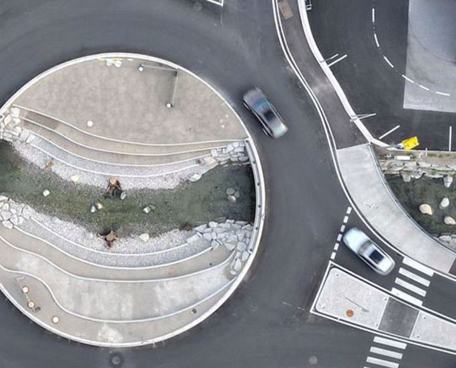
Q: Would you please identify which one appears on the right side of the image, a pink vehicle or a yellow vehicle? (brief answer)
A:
yellow vehicle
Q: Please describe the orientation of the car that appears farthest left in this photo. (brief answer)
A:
on a diagonal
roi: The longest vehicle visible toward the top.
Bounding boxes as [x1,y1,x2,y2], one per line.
[244,89,286,137]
